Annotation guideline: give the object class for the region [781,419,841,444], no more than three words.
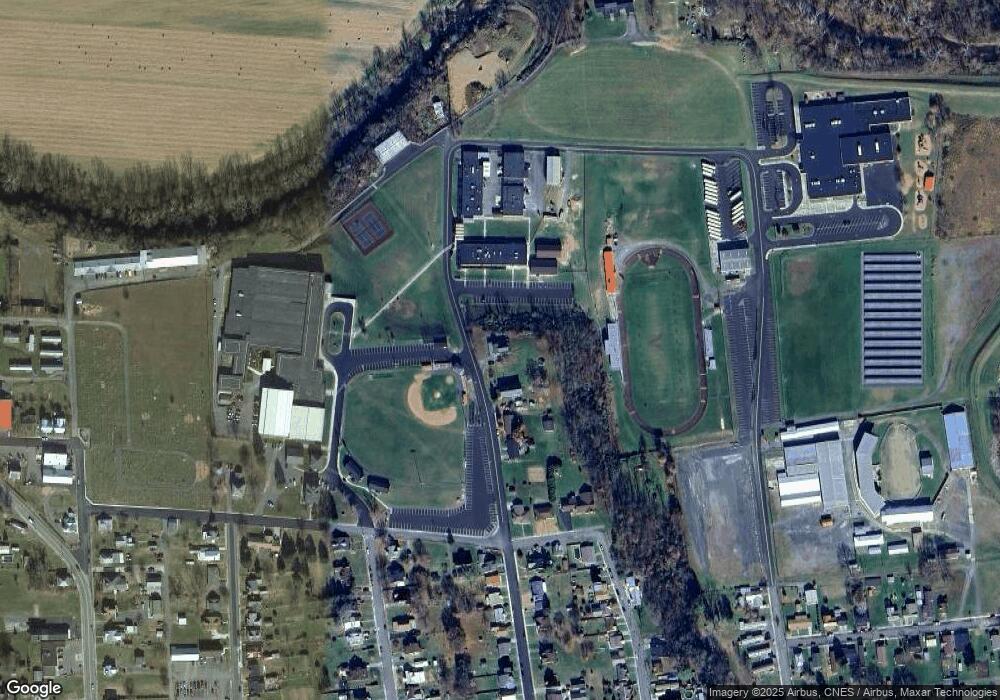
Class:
barn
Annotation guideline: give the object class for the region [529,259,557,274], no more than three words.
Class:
house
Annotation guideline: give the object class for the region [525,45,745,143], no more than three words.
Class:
sports field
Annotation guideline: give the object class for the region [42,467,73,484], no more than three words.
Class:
building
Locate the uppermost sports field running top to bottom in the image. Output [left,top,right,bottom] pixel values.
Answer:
[624,252,702,430]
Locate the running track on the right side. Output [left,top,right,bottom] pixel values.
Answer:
[617,245,710,435]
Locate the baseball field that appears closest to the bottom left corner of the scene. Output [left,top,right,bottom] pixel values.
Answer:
[343,365,466,509]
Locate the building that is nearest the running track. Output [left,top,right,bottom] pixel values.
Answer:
[604,251,616,293]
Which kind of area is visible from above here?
residential area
